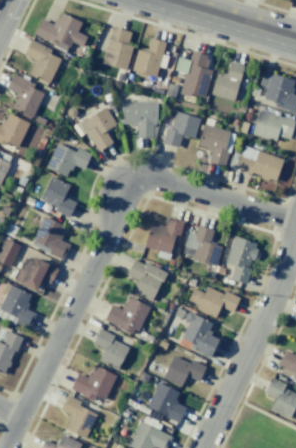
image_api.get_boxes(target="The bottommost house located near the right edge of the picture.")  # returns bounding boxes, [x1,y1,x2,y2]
[265,378,296,422]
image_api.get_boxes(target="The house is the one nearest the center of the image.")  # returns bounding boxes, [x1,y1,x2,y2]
[147,218,184,253]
